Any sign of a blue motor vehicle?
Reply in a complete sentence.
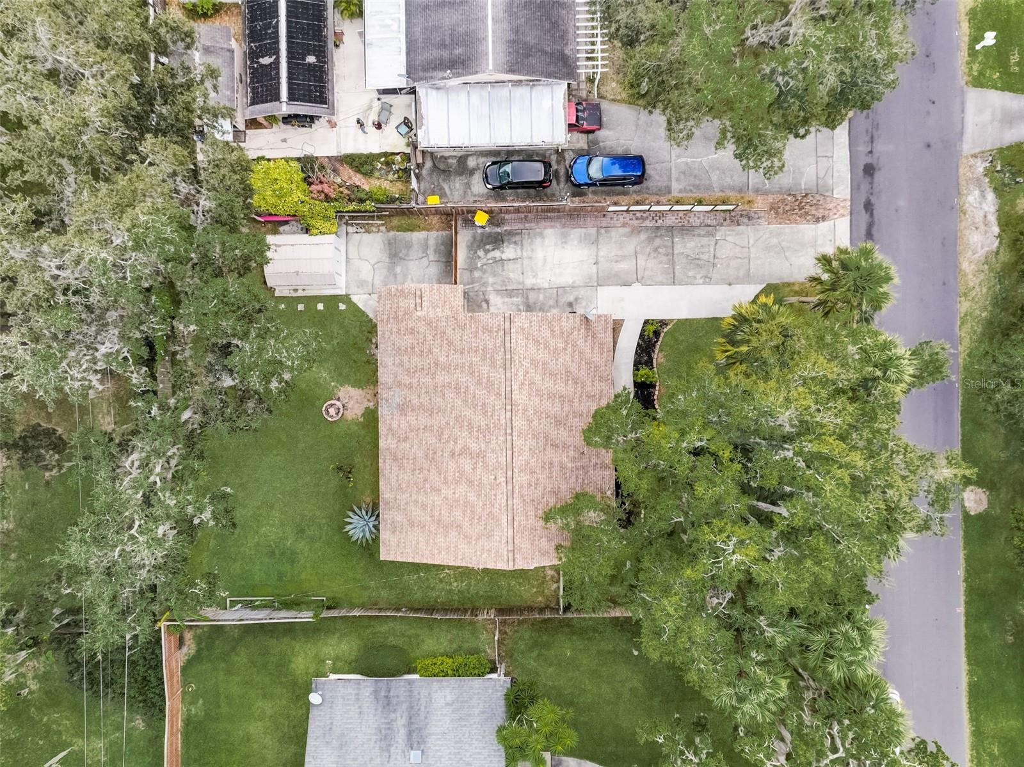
Yes, there is a blue motor vehicle in the image.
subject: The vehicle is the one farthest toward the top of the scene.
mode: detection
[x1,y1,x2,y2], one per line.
[566,97,602,134]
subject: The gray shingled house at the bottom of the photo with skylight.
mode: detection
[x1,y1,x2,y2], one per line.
[305,673,511,767]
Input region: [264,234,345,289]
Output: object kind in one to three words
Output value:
shed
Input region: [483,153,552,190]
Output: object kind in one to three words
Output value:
car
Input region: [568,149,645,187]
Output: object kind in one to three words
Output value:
car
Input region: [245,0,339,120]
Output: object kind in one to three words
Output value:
house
